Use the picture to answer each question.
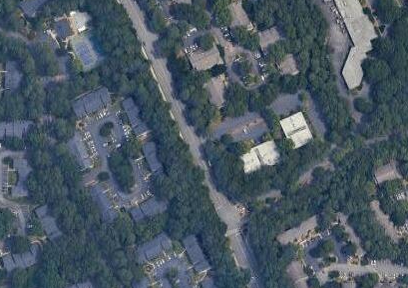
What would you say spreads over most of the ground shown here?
trees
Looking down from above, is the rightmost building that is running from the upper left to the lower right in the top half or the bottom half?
bottom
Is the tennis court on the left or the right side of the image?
left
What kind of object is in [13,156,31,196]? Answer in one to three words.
building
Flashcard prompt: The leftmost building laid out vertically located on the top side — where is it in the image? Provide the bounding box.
[5,62,20,95]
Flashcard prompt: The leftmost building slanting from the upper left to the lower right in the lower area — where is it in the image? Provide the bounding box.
[33,205,61,240]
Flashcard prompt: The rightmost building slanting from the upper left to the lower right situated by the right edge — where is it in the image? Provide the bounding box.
[370,200,402,244]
